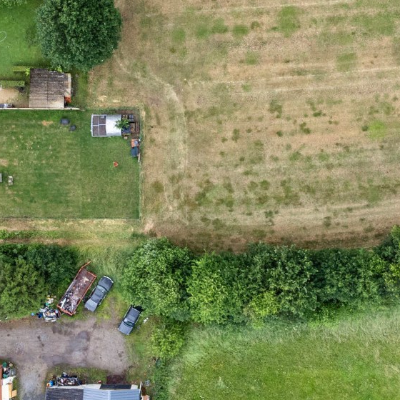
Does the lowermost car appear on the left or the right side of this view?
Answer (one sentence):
The lowermost car appears in the left half of the scene.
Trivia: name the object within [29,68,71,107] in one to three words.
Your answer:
shed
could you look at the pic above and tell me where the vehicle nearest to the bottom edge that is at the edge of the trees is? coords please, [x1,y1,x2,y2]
[119,303,141,334]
